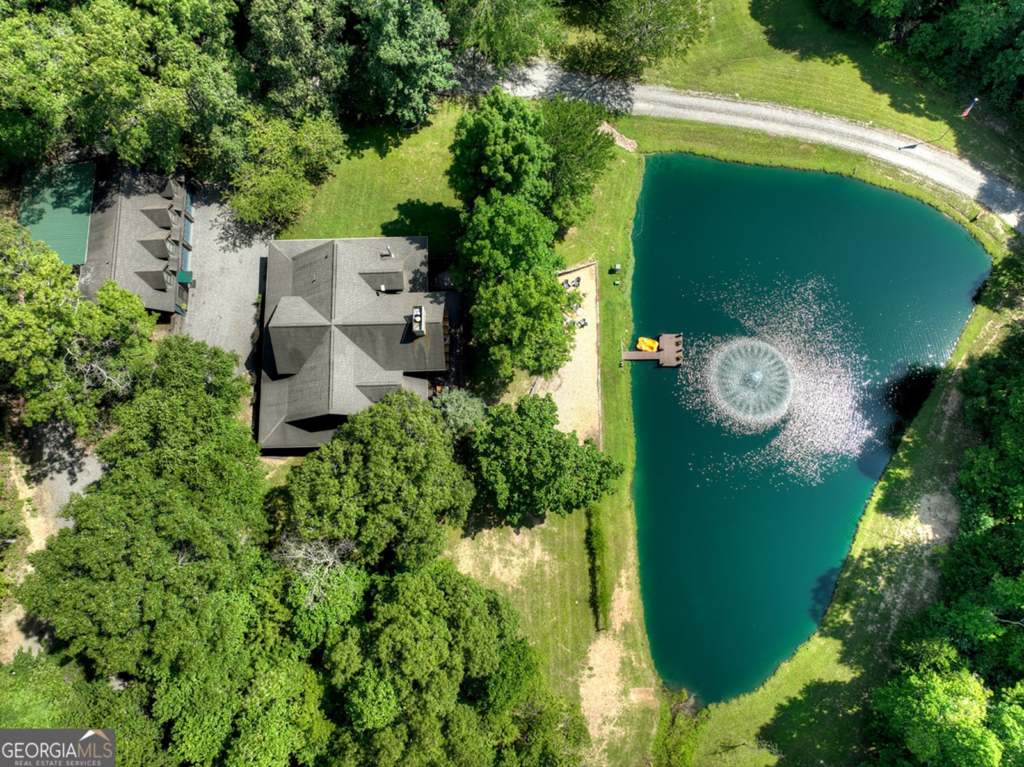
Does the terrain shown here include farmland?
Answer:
No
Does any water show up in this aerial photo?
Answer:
Yes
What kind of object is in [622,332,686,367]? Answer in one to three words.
pier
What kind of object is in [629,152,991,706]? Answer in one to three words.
pond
